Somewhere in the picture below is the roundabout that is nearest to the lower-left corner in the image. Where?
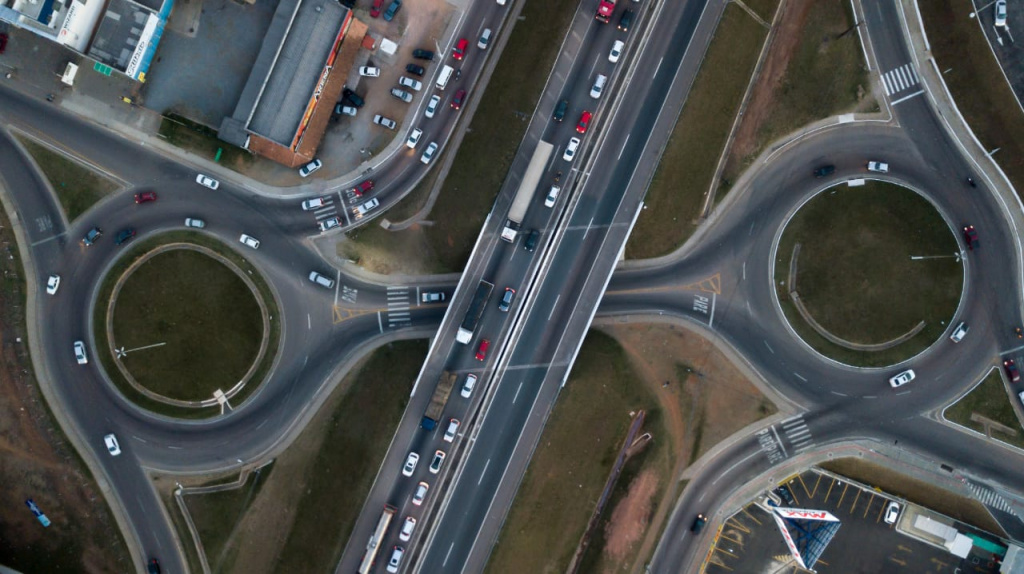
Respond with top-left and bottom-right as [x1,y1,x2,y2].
[49,186,327,464]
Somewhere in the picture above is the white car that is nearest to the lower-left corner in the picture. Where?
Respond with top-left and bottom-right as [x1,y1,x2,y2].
[105,433,121,455]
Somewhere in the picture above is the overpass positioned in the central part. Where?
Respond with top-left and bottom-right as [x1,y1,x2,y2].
[409,202,645,397]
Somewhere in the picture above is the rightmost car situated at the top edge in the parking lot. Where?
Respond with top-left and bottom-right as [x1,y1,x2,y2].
[994,1,1007,25]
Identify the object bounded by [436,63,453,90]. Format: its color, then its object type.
white vehicle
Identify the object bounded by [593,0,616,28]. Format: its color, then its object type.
red truck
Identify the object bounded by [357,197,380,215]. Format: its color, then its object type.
white car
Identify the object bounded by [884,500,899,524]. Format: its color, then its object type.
white car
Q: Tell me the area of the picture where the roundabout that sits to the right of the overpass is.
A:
right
